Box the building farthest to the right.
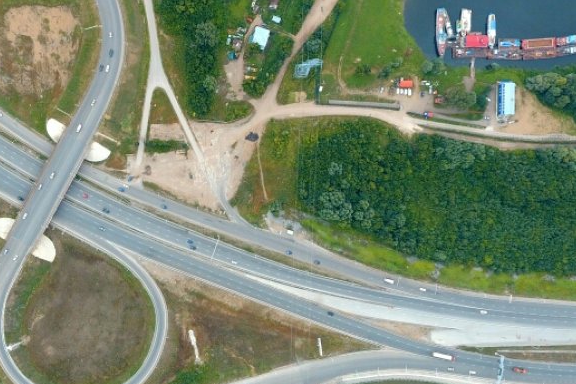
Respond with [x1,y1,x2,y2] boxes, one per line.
[493,81,516,120]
